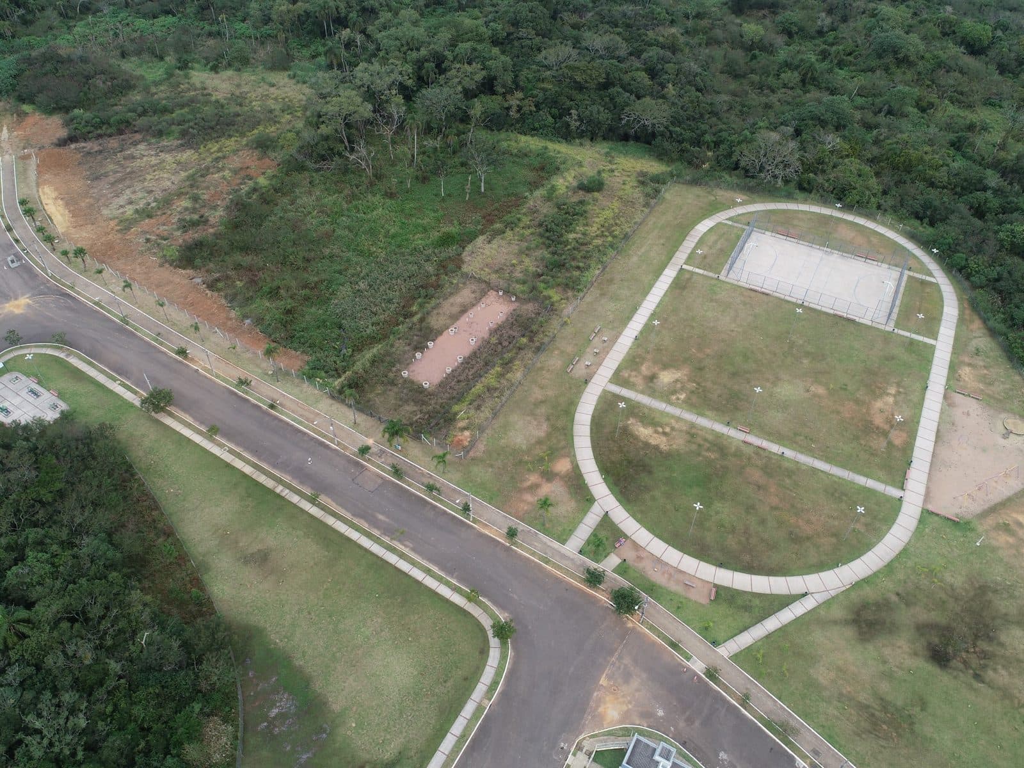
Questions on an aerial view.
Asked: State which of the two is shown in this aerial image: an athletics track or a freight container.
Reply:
athletics track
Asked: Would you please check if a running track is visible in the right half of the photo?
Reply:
Yes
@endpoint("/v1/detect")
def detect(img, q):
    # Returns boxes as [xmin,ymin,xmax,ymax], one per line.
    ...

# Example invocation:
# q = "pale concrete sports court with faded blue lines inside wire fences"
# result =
[722,232,908,326]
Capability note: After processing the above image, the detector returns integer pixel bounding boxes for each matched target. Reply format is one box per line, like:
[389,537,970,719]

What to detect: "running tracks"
[573,202,959,594]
